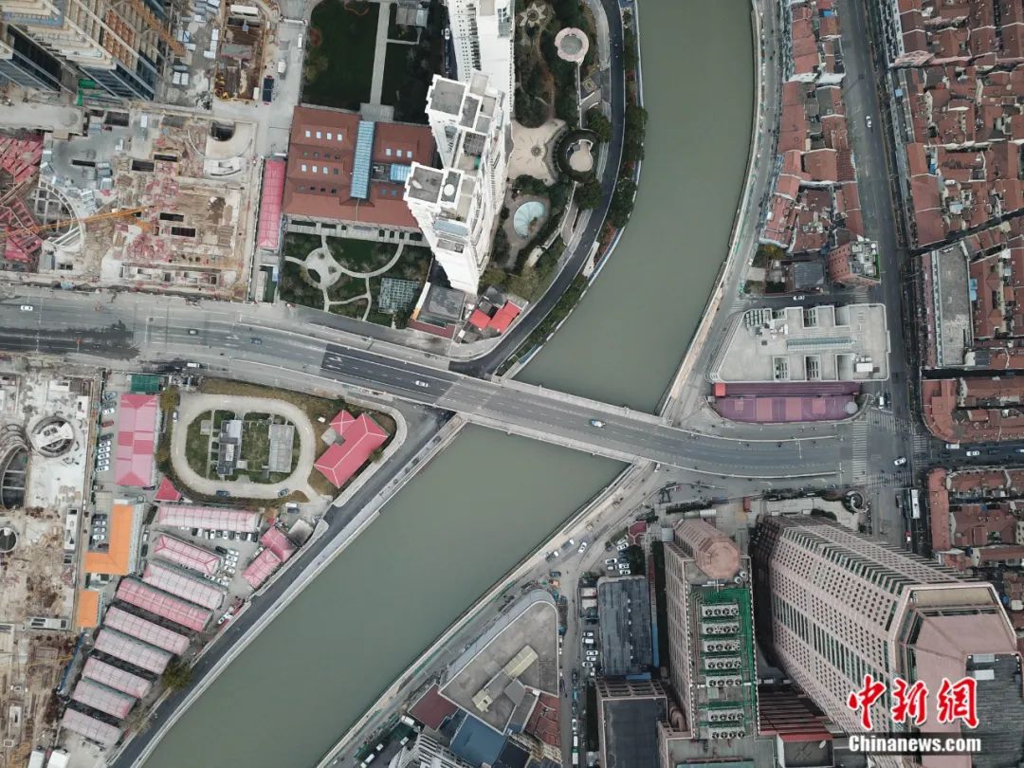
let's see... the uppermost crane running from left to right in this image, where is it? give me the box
[0,201,155,240]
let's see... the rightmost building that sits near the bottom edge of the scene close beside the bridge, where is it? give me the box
[749,506,1024,768]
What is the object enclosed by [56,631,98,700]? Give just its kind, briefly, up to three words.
shed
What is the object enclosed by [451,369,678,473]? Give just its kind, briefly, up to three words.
bridge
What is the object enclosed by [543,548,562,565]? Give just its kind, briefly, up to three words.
vehicle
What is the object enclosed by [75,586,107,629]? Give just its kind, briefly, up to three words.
building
